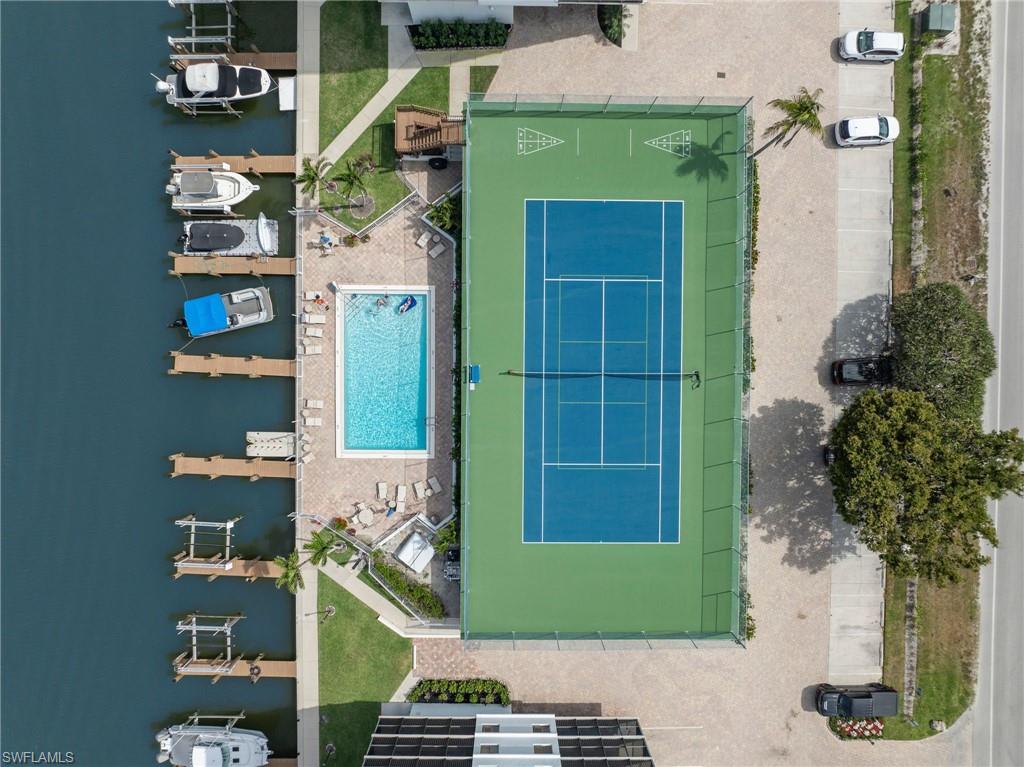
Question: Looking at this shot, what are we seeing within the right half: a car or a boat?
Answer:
car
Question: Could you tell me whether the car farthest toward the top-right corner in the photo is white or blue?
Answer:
white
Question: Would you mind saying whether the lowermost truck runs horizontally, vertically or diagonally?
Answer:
horizontally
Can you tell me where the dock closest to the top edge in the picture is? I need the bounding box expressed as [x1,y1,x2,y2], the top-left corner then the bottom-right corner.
[171,40,295,71]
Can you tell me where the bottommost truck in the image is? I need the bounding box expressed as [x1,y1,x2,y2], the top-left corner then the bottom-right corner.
[818,685,899,720]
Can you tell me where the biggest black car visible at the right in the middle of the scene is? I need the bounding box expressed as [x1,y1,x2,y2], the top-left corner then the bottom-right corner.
[832,358,896,387]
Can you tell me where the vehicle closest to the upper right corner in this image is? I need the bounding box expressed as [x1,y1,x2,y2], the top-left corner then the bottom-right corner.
[840,26,908,61]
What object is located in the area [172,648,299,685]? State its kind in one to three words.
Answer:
pier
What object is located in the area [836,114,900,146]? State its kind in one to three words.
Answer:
car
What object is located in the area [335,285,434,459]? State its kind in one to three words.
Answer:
swimming pool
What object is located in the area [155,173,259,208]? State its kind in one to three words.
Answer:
boat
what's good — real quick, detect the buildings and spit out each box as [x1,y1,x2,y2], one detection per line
[363,711,656,767]
[378,0,641,9]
